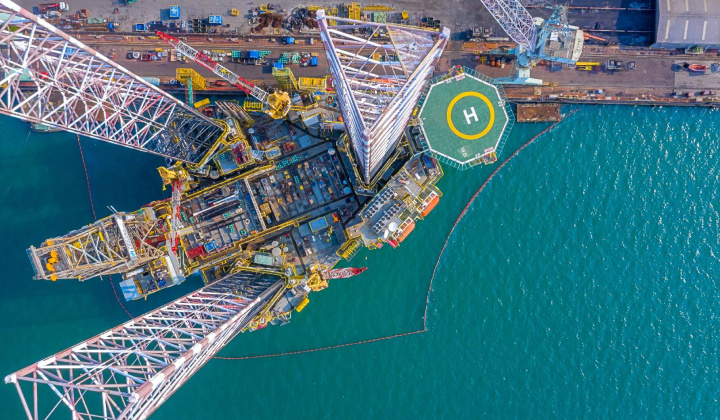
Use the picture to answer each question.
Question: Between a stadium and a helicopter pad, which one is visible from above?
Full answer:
This aerial view contains a helicopter pad.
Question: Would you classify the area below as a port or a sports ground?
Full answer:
The picture captures a port.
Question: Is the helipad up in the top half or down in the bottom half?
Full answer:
The helipad sits in the top half of the picture.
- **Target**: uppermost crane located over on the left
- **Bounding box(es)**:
[155,28,300,122]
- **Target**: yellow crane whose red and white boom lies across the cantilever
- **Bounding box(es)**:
[160,162,195,261]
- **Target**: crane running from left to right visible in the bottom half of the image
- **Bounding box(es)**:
[306,265,369,288]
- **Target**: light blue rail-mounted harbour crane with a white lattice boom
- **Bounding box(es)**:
[464,0,589,93]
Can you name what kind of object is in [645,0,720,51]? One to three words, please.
building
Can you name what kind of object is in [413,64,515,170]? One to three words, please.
helipad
